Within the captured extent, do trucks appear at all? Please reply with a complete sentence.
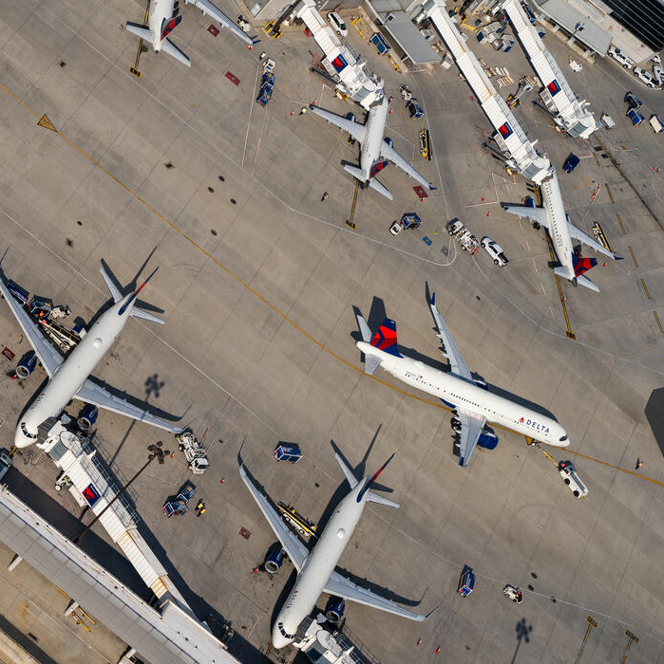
Yes, I can see a truck in this picture.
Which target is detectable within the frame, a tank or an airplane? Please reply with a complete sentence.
The image shows an airplane.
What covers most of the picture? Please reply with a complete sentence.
Most of the picture is covered by paved ground.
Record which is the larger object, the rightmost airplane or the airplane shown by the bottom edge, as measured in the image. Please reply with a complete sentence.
Compared with the rightmost airplane, the airplane shown by the bottom edge is the bigger one.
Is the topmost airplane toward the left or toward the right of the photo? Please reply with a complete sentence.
The topmost airplane is on the left side of the image.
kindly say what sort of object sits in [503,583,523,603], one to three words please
work vehicle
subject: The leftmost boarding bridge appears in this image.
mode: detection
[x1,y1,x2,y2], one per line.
[38,419,217,630]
